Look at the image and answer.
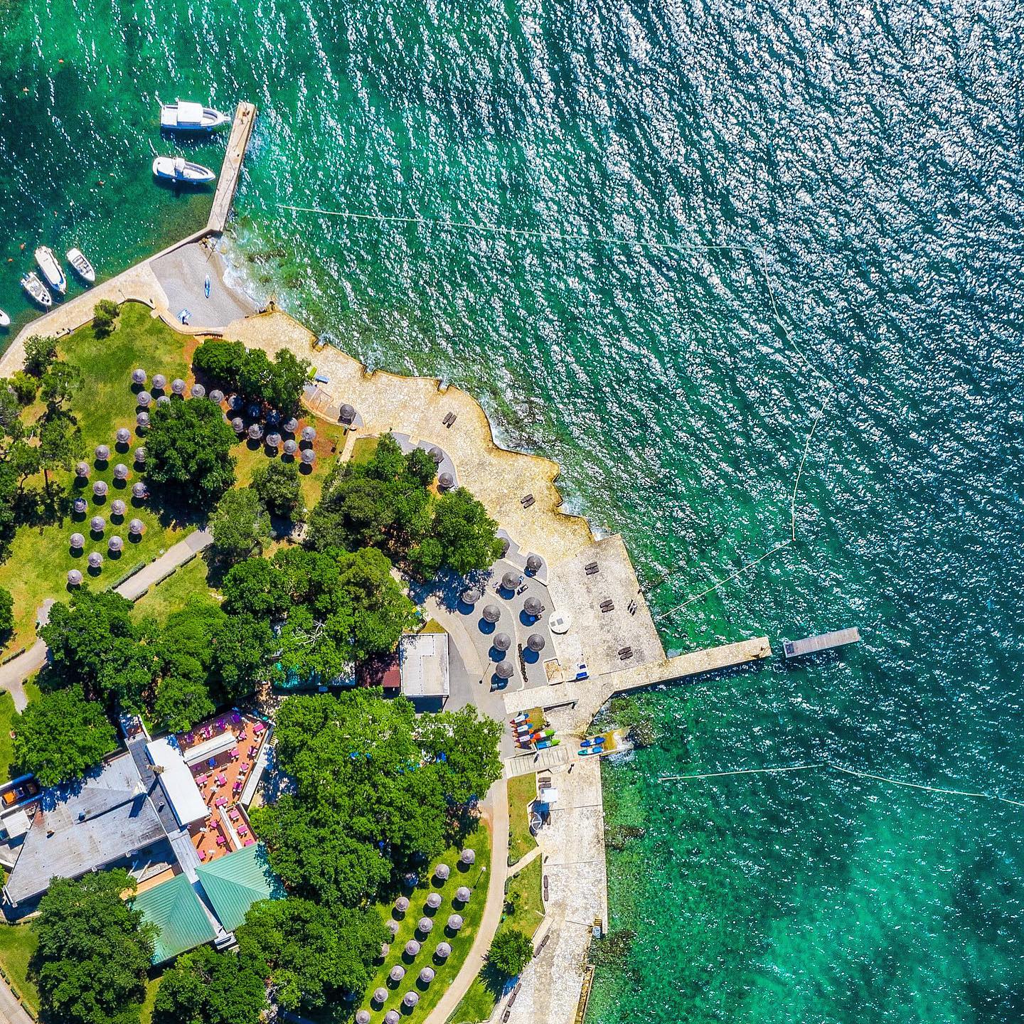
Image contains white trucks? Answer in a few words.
No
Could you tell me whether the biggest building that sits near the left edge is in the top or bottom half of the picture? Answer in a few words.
bottom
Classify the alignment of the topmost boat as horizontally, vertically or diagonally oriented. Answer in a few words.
horizontally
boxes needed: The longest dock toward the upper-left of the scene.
[208,102,258,234]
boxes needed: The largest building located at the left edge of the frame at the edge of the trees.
[5,733,211,909]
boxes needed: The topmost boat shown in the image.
[164,103,230,128]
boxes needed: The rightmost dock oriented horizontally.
[783,627,859,657]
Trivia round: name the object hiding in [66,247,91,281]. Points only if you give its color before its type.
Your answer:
white boat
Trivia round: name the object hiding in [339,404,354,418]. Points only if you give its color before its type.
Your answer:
gray umbrella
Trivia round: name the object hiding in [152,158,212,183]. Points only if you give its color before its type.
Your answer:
white boat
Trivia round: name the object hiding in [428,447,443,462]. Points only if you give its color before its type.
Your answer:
gray umbrella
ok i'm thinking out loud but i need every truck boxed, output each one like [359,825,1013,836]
[2,782,45,808]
